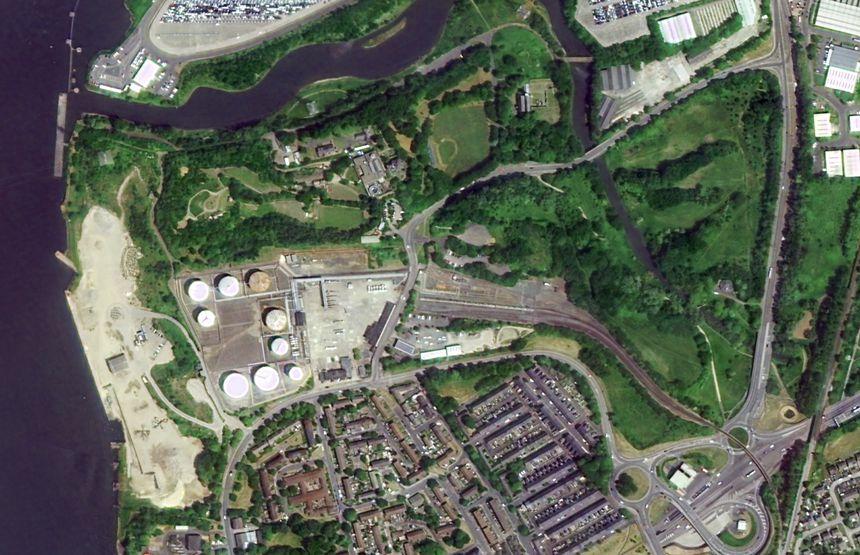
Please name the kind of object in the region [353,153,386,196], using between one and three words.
building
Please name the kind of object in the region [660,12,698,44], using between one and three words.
building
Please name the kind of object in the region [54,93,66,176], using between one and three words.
pier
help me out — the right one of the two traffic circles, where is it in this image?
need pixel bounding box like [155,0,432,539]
[722,421,755,453]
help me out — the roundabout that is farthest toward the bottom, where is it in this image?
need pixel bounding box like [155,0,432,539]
[609,460,655,507]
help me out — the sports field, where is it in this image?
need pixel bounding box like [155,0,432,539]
[430,103,489,172]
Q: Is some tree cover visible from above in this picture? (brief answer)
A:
Yes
